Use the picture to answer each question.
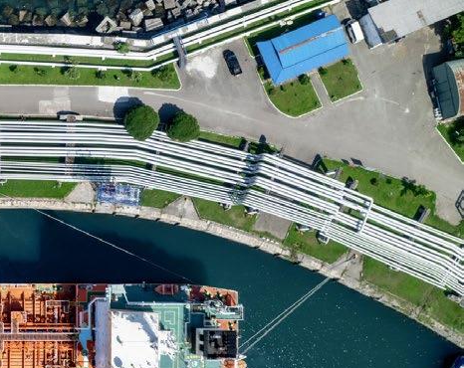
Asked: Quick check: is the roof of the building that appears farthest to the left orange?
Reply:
No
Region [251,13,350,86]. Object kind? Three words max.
building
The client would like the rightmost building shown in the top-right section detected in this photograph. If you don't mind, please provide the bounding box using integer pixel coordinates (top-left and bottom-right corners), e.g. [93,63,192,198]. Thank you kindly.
[431,63,464,116]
